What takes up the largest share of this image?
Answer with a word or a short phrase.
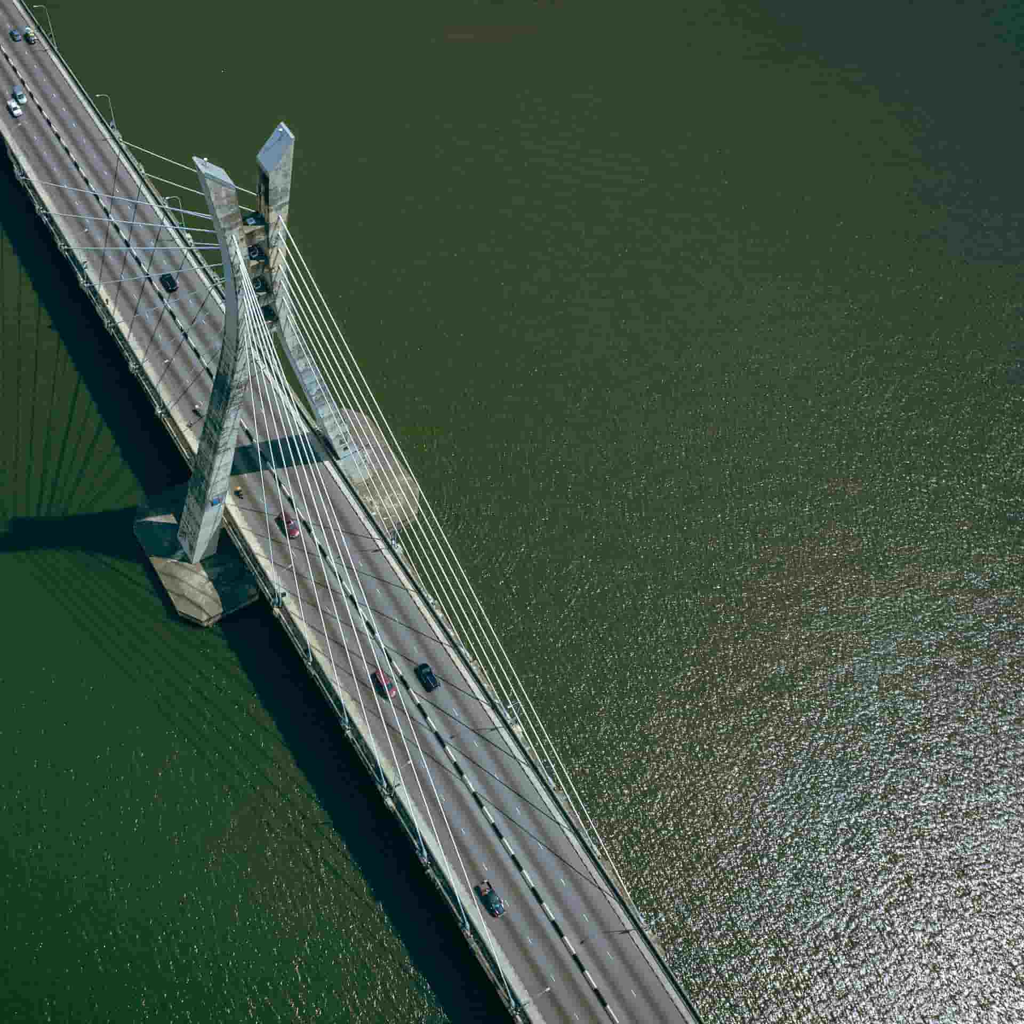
water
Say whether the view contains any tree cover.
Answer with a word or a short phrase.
No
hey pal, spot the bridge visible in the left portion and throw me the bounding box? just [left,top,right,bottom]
[0,0,714,1024]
